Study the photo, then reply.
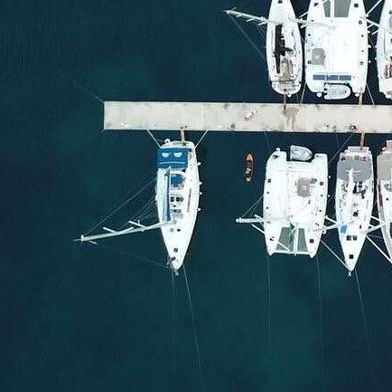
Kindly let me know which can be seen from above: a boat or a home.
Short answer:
boat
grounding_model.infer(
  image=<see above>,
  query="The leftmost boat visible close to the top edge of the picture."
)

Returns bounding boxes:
[222,0,305,99]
